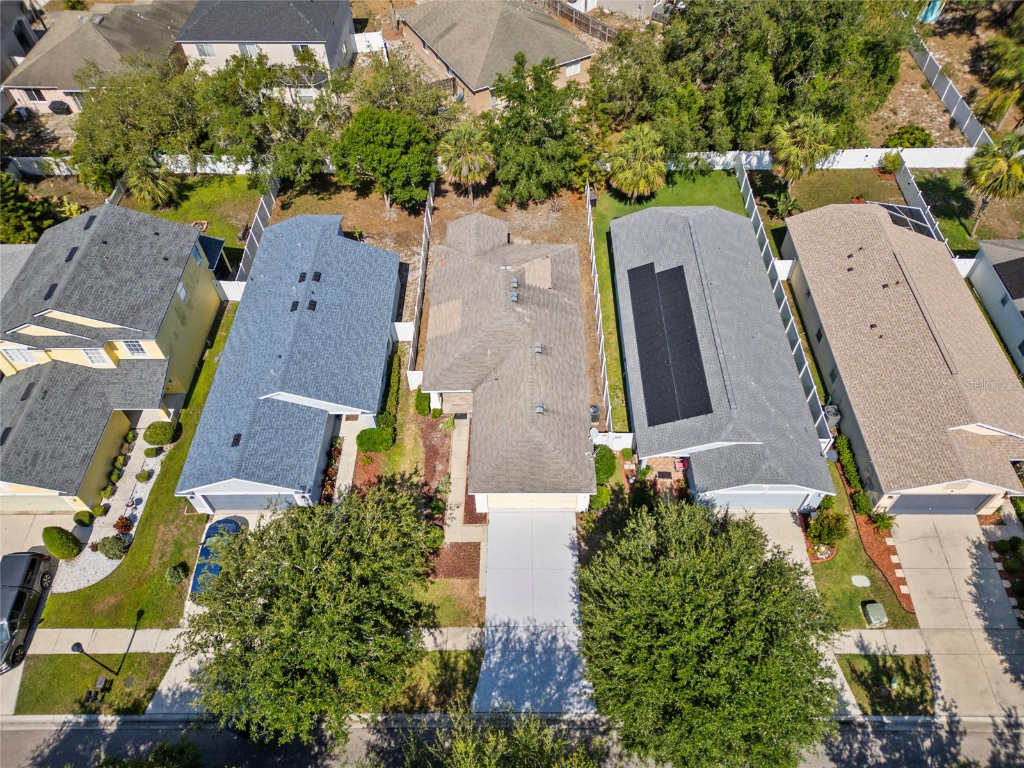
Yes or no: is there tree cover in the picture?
Yes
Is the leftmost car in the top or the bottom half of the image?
bottom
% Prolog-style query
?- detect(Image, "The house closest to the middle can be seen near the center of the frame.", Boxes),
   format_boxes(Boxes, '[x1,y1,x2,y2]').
[418,213,600,510]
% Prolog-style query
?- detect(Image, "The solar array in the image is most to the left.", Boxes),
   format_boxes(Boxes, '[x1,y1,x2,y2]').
[626,261,714,427]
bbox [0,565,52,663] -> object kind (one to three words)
car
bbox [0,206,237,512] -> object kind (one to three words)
house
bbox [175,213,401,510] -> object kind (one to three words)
house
